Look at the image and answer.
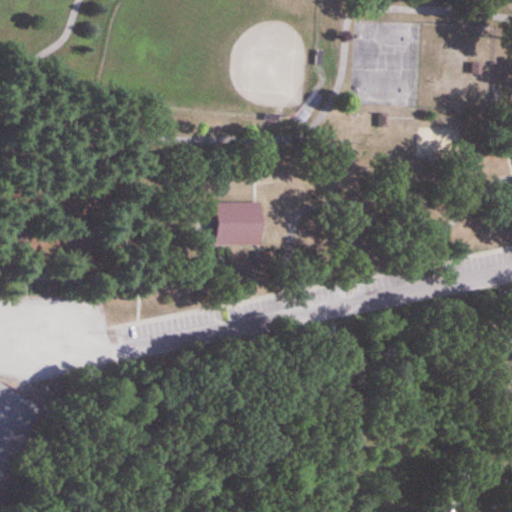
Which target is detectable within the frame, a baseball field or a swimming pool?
baseball field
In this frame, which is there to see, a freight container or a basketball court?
basketball court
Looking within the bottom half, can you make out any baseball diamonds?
No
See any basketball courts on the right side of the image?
Yes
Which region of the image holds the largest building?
center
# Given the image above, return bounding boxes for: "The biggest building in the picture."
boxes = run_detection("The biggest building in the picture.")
[217,202,262,245]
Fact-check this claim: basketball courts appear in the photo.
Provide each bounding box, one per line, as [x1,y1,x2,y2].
[352,22,419,106]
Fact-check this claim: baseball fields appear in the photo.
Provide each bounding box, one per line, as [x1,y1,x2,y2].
[230,20,307,108]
